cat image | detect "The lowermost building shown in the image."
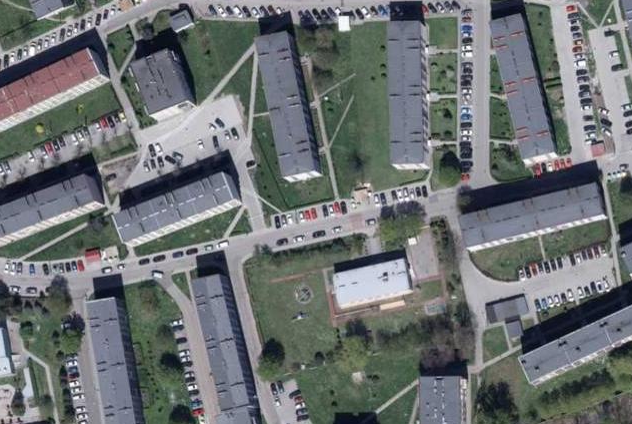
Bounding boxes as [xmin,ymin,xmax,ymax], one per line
[419,376,465,424]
